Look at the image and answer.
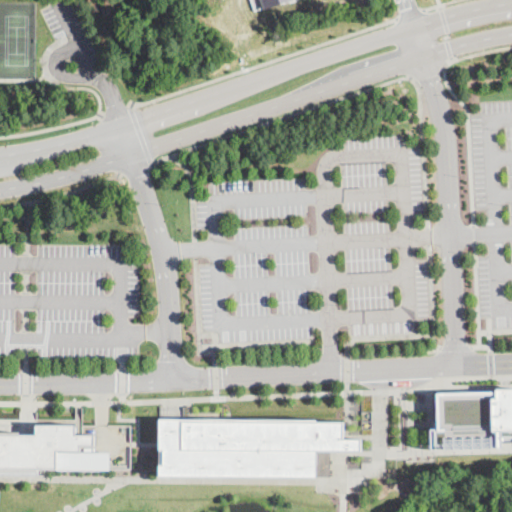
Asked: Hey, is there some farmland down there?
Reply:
No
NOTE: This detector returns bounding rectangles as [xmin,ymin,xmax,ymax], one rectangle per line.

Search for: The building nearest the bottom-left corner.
[0,425,110,476]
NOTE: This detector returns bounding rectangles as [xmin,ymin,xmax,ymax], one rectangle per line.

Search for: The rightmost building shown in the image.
[429,388,512,450]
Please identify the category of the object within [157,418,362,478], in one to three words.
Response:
building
